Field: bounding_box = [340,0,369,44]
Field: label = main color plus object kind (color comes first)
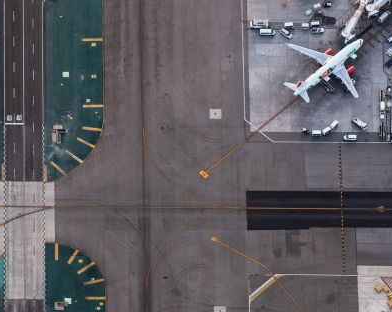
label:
white jet bridge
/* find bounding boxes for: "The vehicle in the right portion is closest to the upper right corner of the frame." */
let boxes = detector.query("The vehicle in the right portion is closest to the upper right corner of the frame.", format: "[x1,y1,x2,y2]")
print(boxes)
[376,12,392,26]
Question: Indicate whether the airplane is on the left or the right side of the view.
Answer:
right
